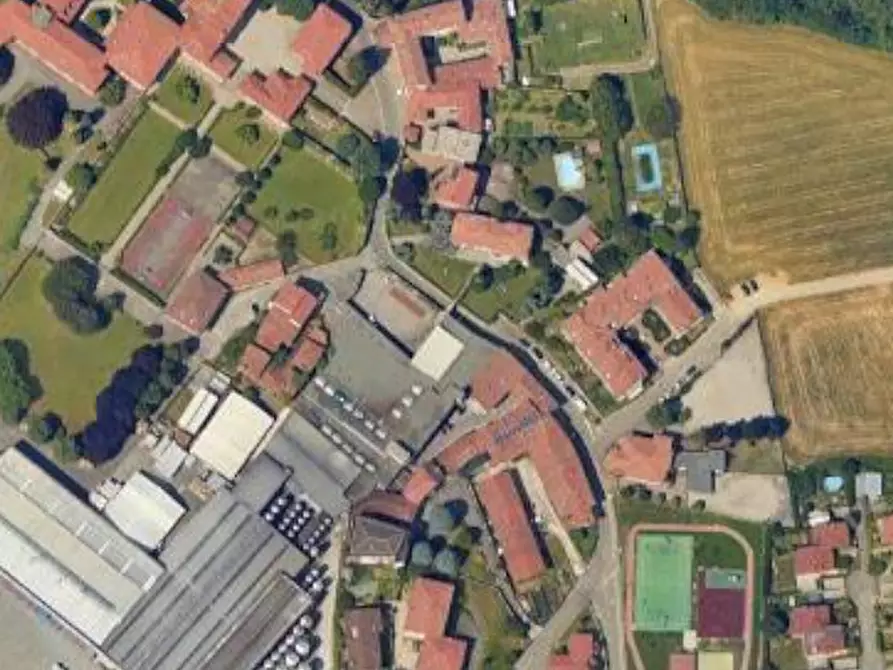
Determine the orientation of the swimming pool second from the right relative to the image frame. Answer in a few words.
vertically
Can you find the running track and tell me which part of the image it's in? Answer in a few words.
bottom right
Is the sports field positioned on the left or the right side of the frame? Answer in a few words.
right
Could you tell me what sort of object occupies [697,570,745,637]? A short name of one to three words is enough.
sports court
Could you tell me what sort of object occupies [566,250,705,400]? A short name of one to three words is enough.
building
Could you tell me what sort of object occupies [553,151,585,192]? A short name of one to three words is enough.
swimming pool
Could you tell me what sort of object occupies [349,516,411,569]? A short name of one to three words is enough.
house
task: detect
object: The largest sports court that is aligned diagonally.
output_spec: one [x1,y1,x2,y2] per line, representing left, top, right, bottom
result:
[119,154,249,302]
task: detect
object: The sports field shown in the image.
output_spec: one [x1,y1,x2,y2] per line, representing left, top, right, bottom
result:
[615,491,766,670]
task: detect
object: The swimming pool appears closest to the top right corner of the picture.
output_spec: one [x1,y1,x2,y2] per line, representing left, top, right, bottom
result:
[632,143,660,191]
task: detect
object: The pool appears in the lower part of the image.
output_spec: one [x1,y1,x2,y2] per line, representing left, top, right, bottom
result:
[824,473,843,492]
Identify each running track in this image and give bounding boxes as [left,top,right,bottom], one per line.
[628,523,753,670]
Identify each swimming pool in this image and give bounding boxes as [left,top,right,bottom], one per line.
[824,473,843,492]
[632,143,660,191]
[553,151,585,192]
